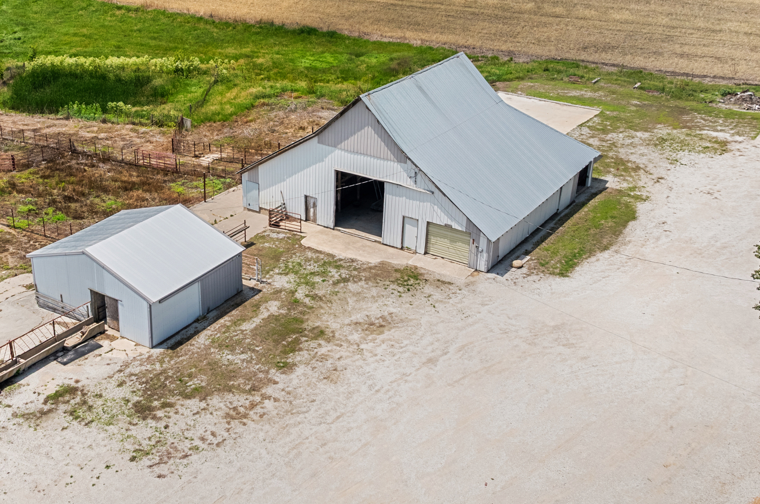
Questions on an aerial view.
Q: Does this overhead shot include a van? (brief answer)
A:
No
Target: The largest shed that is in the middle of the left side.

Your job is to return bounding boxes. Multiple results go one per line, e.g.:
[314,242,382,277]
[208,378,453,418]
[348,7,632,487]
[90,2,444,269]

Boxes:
[25,202,247,349]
